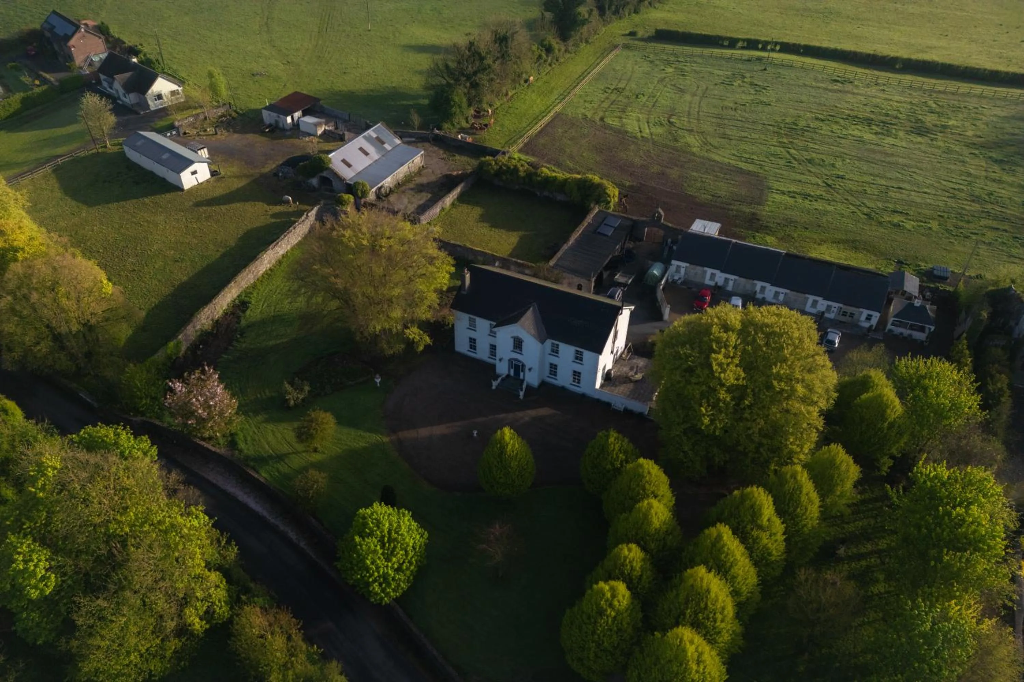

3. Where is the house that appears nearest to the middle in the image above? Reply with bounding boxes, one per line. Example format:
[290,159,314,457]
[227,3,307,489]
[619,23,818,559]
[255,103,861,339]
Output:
[450,264,636,402]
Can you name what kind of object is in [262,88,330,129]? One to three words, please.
shed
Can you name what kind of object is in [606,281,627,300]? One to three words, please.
car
